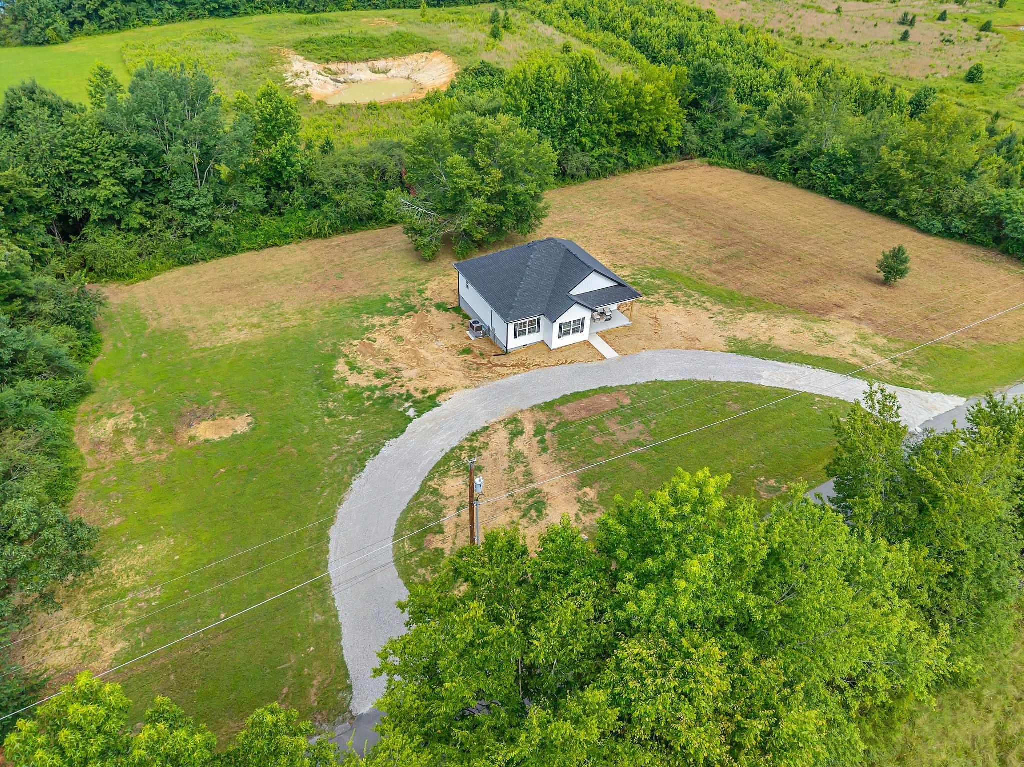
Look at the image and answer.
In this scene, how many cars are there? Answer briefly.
0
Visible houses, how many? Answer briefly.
one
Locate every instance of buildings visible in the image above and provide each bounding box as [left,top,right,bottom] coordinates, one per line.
[446,234,643,353]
